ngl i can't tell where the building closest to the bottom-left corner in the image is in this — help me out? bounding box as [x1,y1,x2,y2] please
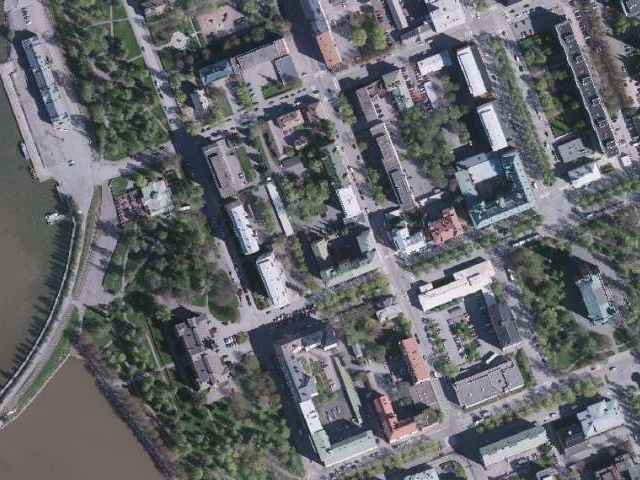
[176,315,225,392]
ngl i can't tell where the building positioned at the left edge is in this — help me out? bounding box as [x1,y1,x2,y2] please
[23,37,70,129]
